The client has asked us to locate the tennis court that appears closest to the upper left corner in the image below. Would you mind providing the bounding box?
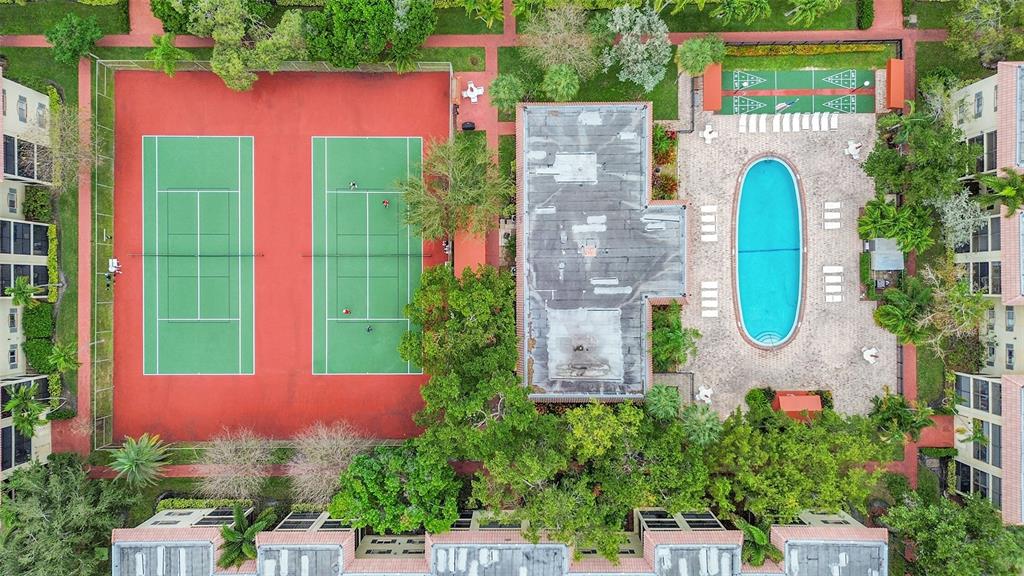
[143,136,253,375]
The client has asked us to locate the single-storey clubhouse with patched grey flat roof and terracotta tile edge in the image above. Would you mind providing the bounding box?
[516,103,690,402]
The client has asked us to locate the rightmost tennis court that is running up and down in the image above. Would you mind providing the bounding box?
[312,136,422,375]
